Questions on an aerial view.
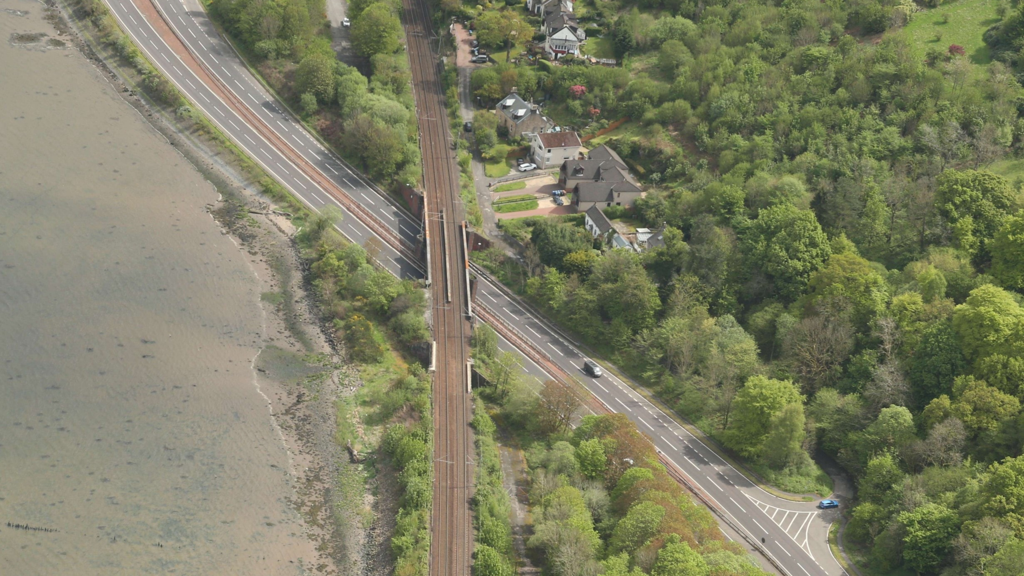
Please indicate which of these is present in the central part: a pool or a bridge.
bridge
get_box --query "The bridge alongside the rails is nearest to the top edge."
[398,183,489,326]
